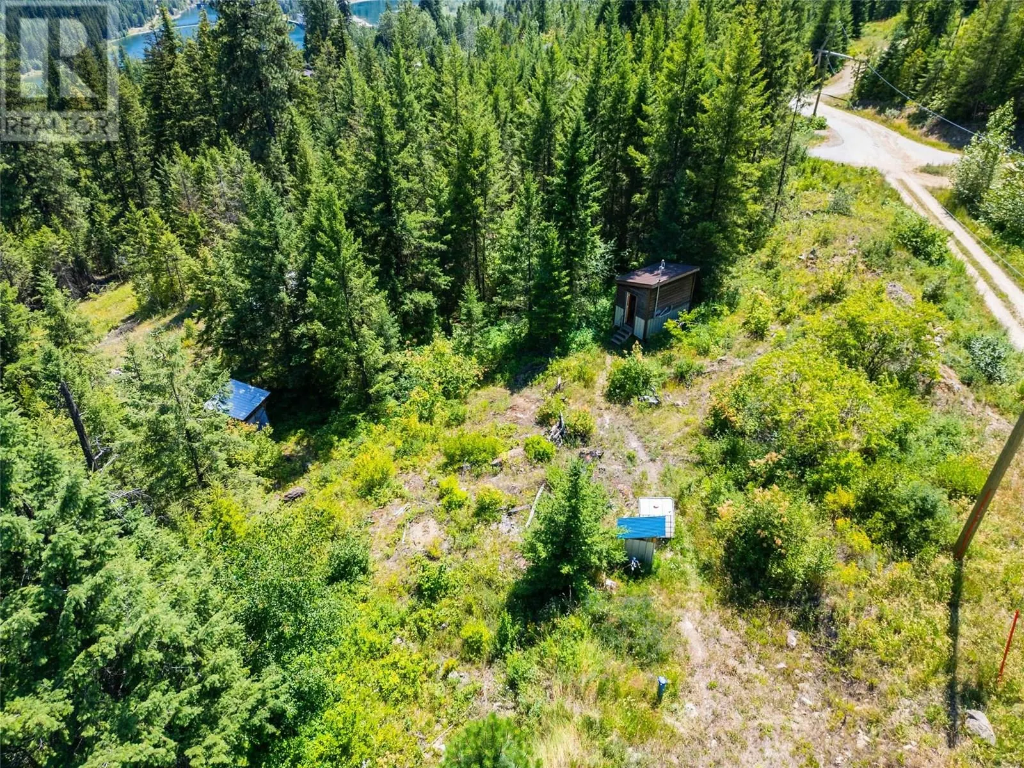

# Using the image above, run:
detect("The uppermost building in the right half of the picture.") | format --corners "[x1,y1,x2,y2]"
[605,257,699,343]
